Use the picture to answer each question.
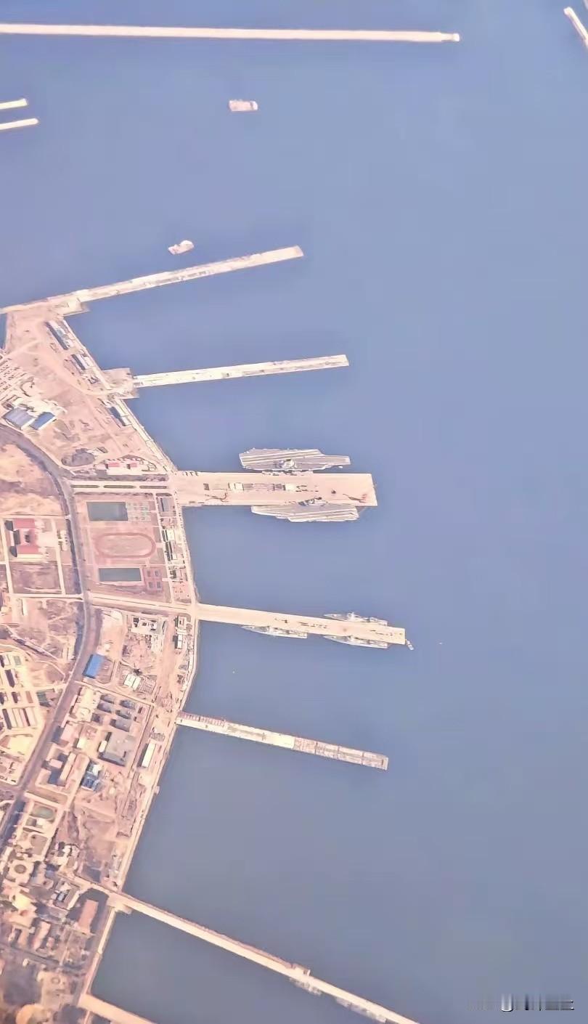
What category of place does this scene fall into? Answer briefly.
port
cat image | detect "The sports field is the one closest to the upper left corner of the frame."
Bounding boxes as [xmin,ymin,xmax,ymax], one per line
[85,501,129,522]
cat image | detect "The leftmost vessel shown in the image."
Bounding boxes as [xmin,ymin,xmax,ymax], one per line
[167,238,195,255]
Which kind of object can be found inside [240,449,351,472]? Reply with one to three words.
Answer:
ship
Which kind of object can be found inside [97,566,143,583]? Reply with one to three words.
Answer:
sports field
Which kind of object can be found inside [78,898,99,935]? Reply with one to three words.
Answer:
building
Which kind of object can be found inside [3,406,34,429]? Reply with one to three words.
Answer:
hangar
